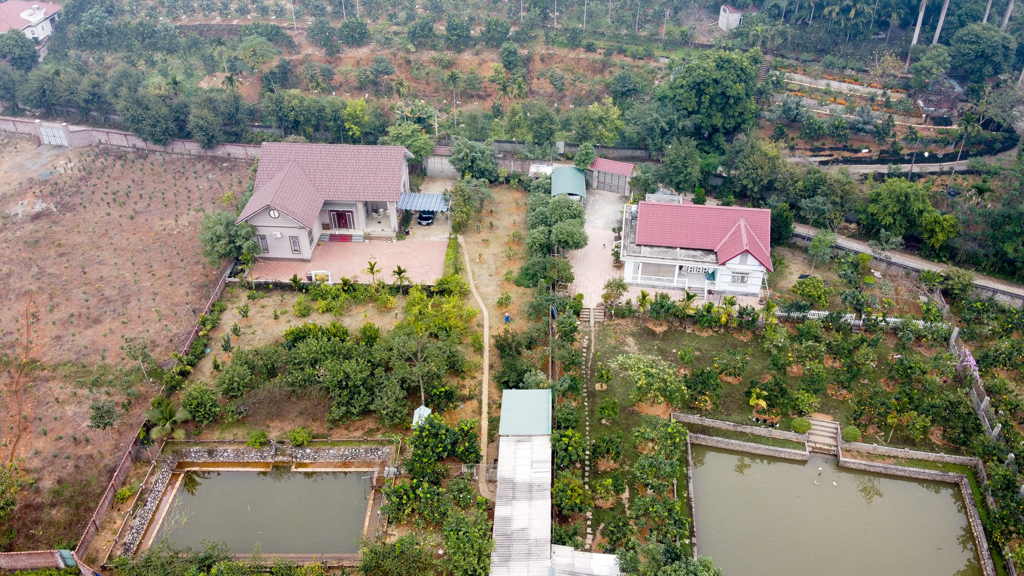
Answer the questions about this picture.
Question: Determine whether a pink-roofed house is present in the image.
Yes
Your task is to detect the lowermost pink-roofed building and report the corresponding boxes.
[620,191,775,301]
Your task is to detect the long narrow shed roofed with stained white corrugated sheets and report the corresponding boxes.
[497,435,560,576]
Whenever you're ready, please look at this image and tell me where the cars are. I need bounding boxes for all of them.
[418,211,436,225]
